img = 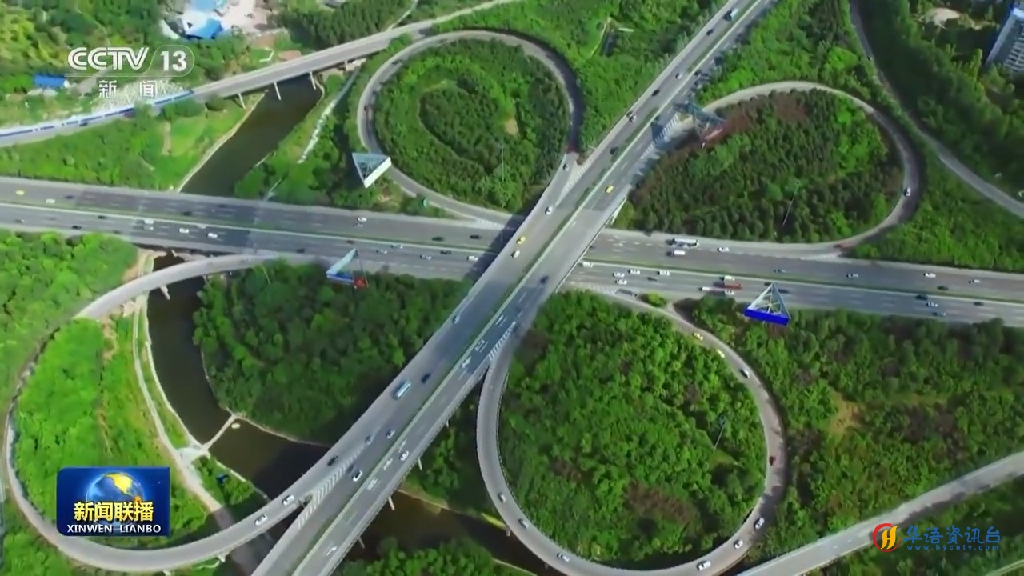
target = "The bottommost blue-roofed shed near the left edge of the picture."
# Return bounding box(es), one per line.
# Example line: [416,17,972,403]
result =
[31,77,70,91]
